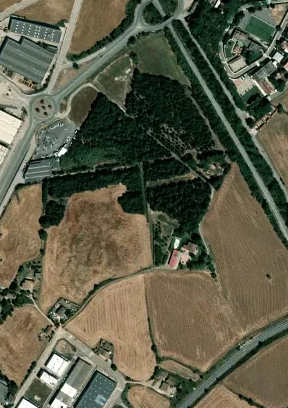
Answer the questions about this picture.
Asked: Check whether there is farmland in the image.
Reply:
Yes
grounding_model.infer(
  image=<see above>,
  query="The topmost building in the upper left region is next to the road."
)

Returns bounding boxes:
[11,18,62,43]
